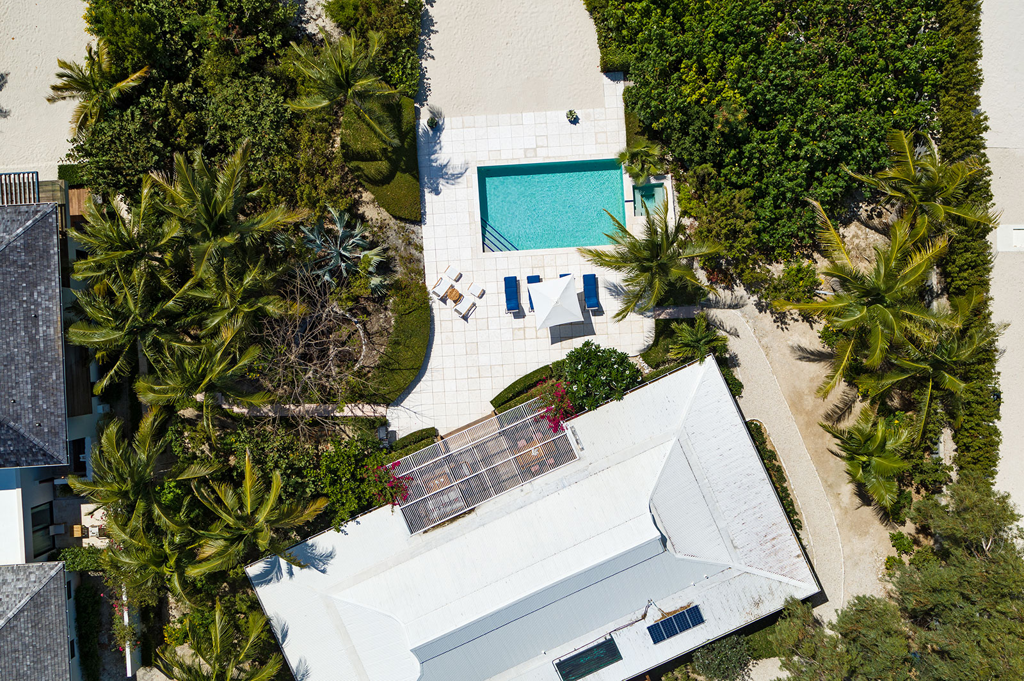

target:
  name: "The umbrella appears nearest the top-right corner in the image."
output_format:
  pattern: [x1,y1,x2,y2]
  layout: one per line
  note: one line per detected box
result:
[528,274,584,330]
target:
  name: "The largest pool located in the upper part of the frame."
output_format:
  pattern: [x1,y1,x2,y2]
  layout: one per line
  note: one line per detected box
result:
[470,151,636,260]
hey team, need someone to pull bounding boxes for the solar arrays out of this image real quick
[647,603,706,644]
